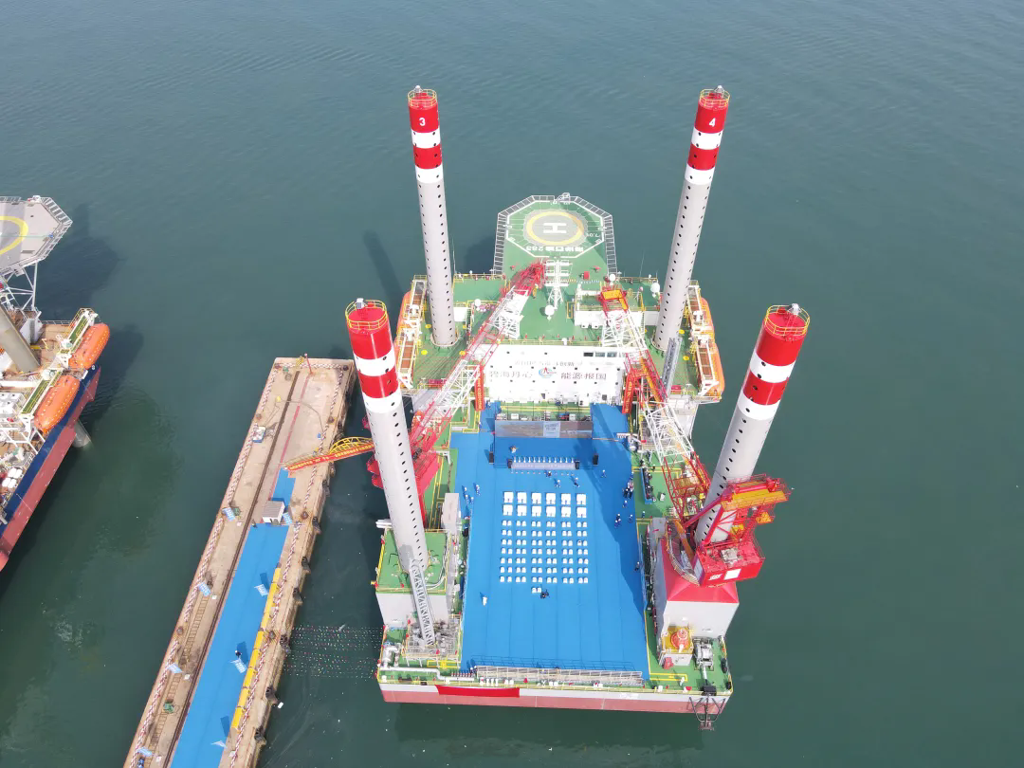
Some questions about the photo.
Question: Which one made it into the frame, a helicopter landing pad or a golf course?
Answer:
helicopter landing pad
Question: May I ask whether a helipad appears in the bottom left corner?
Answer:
No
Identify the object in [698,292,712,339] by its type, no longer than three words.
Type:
boat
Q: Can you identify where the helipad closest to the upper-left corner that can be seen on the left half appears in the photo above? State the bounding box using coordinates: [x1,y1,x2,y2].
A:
[0,196,74,319]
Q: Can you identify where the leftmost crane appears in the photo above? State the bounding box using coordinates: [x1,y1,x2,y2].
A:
[358,257,550,528]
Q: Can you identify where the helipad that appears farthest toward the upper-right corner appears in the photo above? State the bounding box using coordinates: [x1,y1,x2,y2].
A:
[489,189,627,290]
